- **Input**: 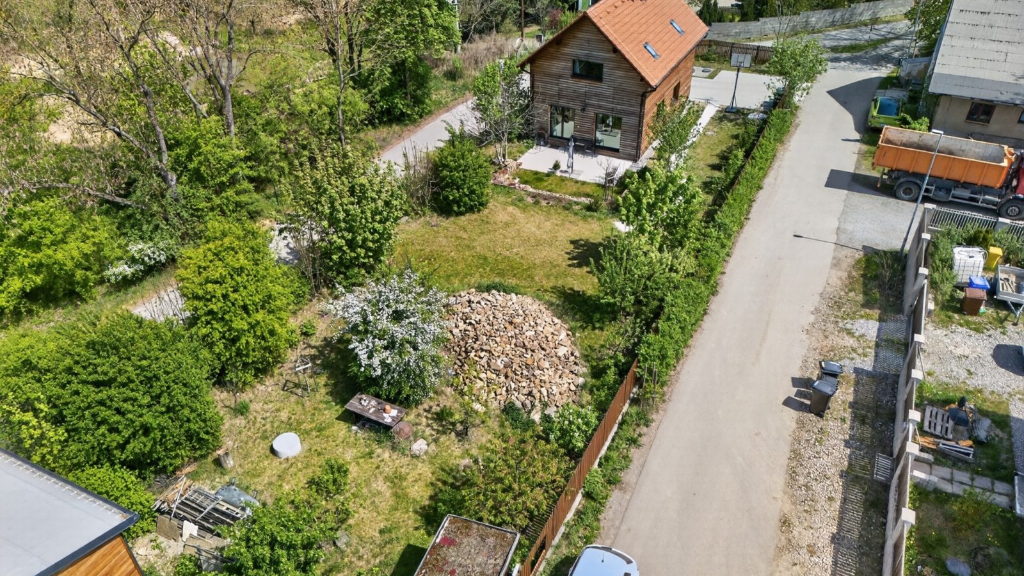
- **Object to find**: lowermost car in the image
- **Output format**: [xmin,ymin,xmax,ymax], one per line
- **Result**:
[567,539,642,576]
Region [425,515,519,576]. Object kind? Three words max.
shed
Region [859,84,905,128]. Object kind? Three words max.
car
